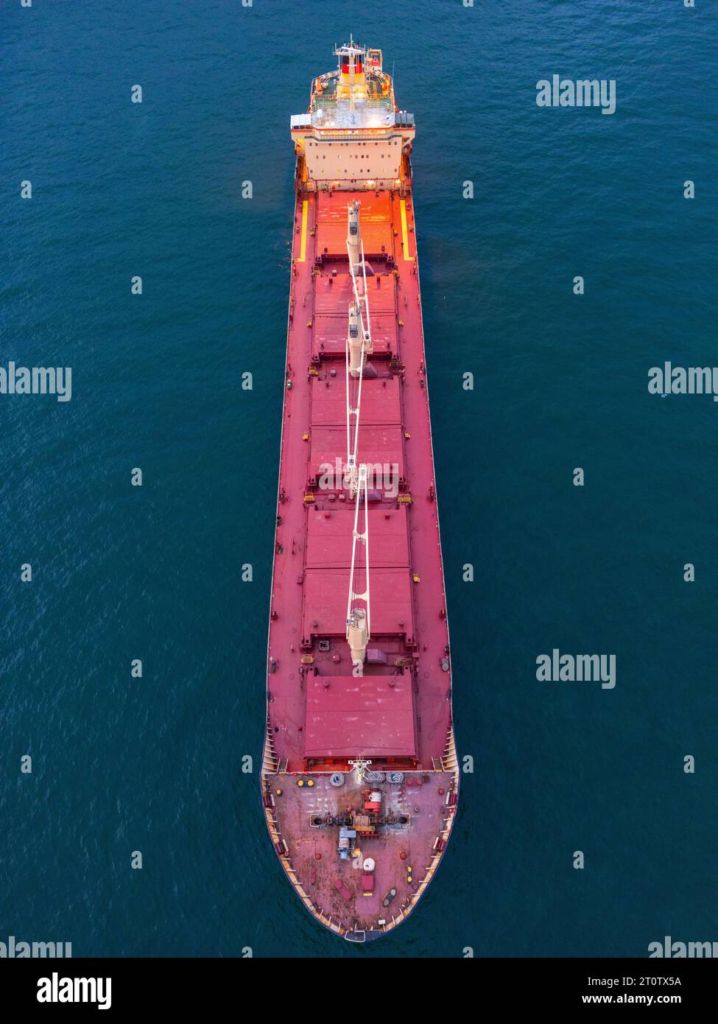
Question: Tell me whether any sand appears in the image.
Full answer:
No, no sand is visible.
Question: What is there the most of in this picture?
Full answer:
For the most part, this view shows water.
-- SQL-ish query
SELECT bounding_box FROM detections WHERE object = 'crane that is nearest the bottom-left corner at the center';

[346,465,371,671]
